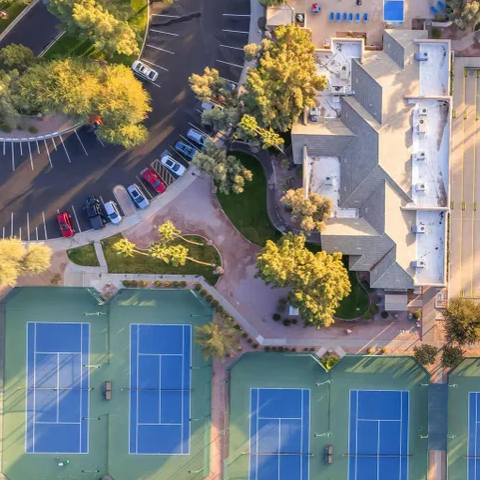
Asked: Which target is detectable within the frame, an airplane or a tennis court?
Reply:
tennis court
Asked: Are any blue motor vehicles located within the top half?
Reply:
Yes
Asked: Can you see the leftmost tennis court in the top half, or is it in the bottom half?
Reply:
bottom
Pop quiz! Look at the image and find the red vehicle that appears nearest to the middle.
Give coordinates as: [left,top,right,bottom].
[141,170,166,194]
